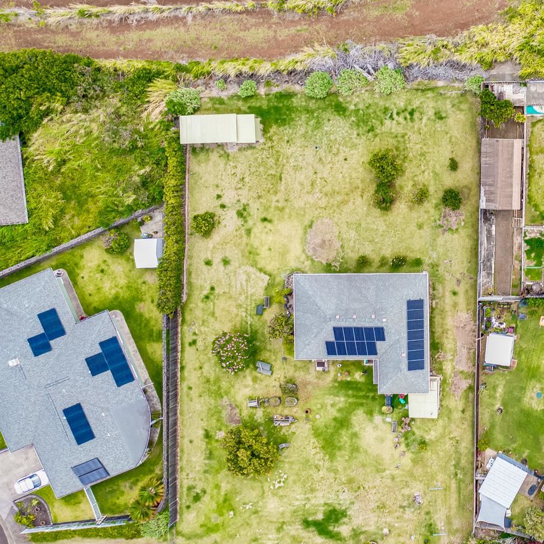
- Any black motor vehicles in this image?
No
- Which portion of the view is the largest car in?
bottom left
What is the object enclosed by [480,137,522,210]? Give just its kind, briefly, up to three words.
shed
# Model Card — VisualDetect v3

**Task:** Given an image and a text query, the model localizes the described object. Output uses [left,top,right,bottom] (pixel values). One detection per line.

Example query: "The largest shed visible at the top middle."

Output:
[180,113,263,147]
